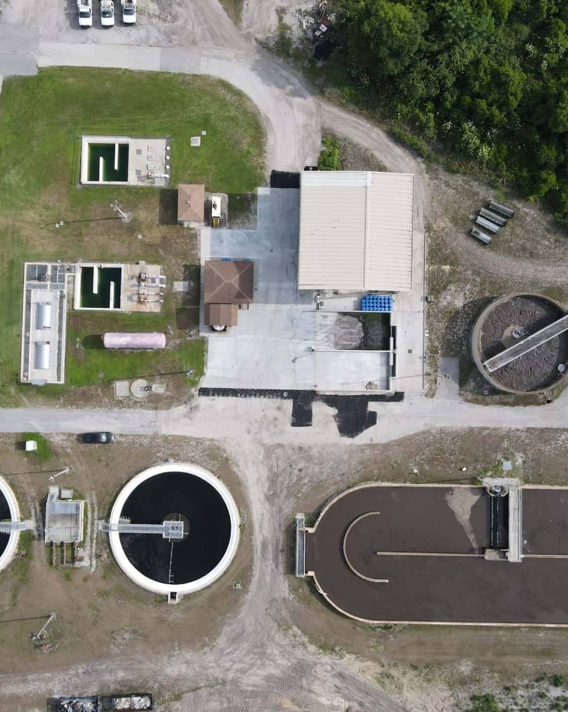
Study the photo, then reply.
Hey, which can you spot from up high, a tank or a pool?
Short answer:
tank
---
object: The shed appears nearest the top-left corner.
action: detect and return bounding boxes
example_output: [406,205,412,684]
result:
[178,185,204,223]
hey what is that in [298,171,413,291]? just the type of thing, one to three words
building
